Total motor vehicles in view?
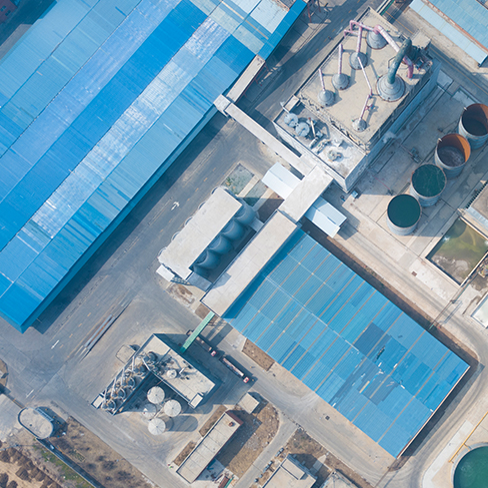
2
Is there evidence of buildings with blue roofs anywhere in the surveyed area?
Yes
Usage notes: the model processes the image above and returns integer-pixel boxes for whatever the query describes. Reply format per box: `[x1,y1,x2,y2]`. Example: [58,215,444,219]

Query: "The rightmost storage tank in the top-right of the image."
[458,104,488,148]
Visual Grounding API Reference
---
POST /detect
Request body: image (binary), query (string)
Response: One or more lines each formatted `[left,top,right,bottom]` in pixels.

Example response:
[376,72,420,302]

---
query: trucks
[183,330,217,358]
[219,355,249,384]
